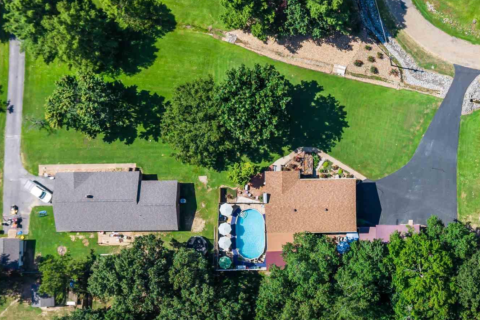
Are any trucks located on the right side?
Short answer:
No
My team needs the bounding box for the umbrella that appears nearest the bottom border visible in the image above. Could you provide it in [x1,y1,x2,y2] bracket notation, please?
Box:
[218,255,233,269]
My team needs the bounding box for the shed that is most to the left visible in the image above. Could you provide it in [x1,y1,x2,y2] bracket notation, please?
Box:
[0,238,26,273]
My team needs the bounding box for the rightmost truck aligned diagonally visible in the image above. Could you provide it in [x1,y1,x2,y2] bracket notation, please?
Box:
[22,177,53,205]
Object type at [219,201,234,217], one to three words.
umbrella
